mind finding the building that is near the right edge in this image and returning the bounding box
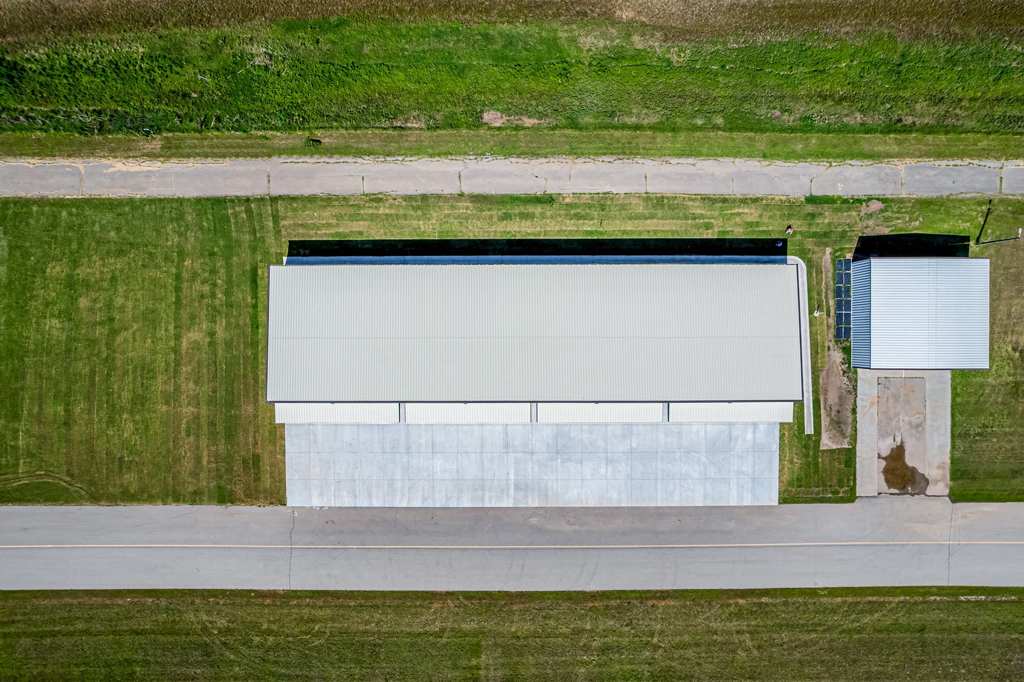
[851,254,990,370]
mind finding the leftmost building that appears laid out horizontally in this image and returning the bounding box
[264,263,804,423]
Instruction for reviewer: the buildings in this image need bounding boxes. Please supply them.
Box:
[264,263,804,423]
[851,254,990,370]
